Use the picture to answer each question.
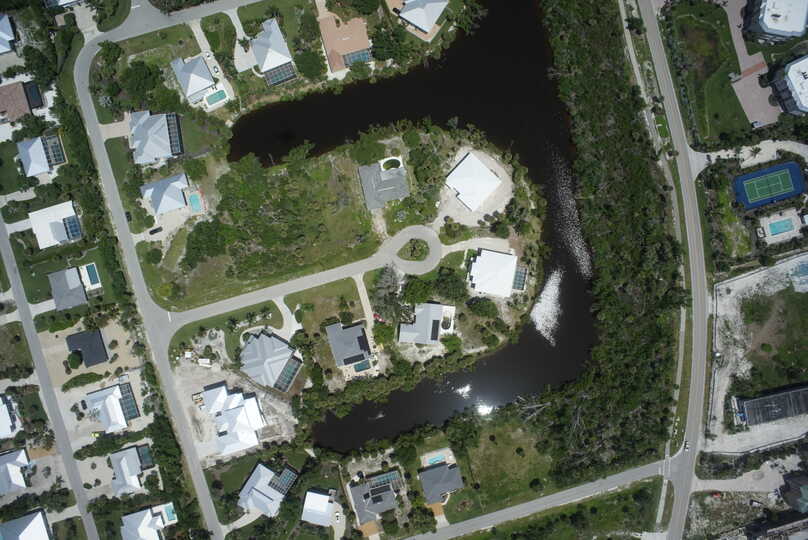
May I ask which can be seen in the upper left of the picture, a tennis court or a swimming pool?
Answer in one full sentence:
What appears in the upper left of the picture is a swimming pool.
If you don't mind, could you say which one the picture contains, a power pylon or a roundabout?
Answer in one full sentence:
This aerial view contains a roundabout.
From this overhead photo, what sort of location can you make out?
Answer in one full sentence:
The area seen from above is a residential area.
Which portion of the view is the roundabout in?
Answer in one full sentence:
Look in the center portion of the view to spot the roundabout.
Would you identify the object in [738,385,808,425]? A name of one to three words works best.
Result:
building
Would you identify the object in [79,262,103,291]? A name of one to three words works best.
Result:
swimming pool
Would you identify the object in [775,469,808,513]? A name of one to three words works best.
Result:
house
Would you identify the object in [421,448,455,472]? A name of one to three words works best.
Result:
swimming pool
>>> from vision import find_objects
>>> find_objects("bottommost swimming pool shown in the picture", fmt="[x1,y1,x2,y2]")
[155,502,177,527]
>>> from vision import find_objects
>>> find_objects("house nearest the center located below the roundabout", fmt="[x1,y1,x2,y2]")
[399,304,442,344]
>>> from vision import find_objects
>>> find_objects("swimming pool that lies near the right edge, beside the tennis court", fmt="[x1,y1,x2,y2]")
[760,208,804,245]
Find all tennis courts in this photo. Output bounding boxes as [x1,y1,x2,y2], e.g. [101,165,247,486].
[735,163,804,209]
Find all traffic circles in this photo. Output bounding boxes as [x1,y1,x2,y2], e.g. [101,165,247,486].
[387,225,440,275]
